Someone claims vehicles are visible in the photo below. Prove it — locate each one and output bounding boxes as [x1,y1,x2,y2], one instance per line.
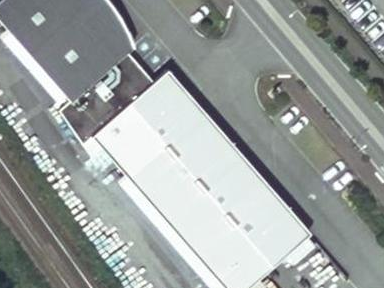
[188,6,210,24]
[298,278,312,288]
[350,0,373,20]
[332,172,354,191]
[358,10,381,30]
[366,20,384,40]
[324,162,344,180]
[282,106,304,126]
[373,35,384,51]
[342,0,358,8]
[289,115,310,134]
